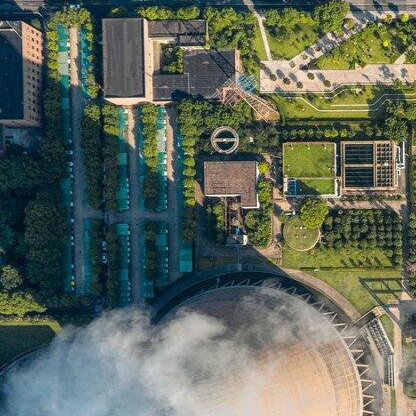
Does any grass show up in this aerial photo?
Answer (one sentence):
Yes, there is grass in the image.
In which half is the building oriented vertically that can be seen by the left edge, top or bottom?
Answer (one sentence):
The building oriented vertically that can be seen by the left edge sits in the top half of the picture.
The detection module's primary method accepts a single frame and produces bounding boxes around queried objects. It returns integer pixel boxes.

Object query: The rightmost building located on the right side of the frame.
[282,143,338,195]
